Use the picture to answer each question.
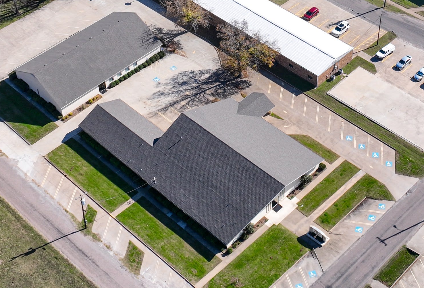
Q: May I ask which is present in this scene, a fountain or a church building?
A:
church building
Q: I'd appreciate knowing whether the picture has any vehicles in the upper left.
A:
No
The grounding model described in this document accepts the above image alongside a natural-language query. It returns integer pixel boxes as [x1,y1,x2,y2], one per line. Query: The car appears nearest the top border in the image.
[302,4,321,20]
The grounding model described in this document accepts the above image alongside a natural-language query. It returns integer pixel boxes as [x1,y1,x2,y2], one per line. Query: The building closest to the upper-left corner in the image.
[13,11,164,115]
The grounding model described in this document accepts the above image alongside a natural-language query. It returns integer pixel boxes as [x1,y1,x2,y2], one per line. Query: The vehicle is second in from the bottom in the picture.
[395,55,413,70]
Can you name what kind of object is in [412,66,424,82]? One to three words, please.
vehicle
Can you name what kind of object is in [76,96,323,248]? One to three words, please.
church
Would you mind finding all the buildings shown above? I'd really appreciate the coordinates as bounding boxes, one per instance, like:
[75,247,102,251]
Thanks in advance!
[176,0,353,84]
[13,11,164,115]
[76,96,323,248]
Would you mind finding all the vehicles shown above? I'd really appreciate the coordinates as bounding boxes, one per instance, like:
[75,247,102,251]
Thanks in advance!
[375,42,397,60]
[395,55,413,70]
[302,4,321,20]
[331,19,350,36]
[412,66,424,82]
